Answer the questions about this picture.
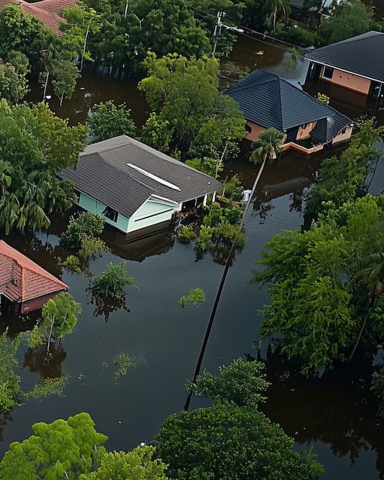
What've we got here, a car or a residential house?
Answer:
residential house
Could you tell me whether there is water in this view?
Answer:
Yes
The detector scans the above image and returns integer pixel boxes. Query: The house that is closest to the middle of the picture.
[58,133,223,235]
